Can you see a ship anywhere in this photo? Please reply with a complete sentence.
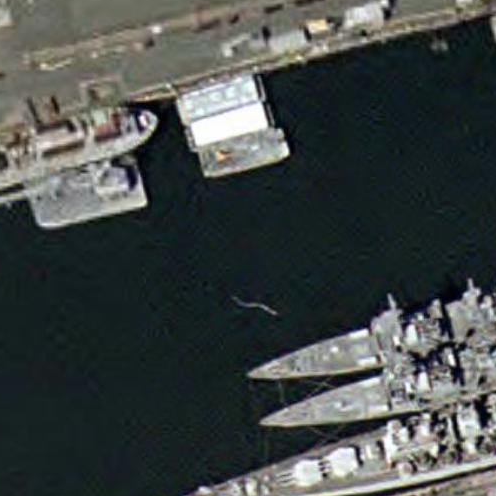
Yes, this view includes a ship.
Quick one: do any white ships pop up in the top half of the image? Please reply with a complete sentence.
Yes, a white ship is visible in the top half of the image.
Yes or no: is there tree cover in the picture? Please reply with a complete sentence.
No, there's no tree cover in this view.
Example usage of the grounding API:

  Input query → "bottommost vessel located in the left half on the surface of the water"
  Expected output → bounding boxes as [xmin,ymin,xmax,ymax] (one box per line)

[0,159,146,230]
